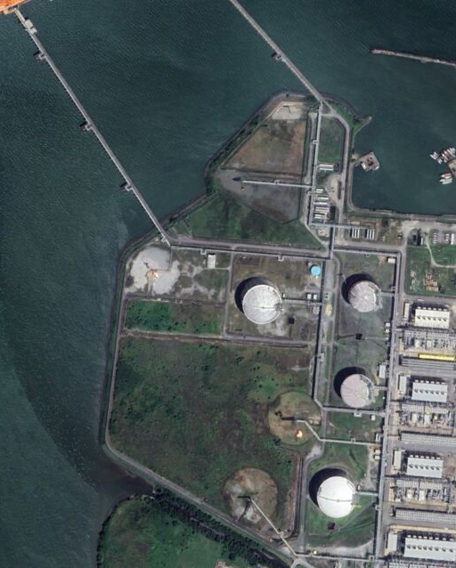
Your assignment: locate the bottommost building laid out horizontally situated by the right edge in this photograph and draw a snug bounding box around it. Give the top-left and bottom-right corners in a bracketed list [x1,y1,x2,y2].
[403,532,456,562]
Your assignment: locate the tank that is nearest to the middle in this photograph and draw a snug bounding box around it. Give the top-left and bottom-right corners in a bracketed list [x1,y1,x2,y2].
[240,276,285,322]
